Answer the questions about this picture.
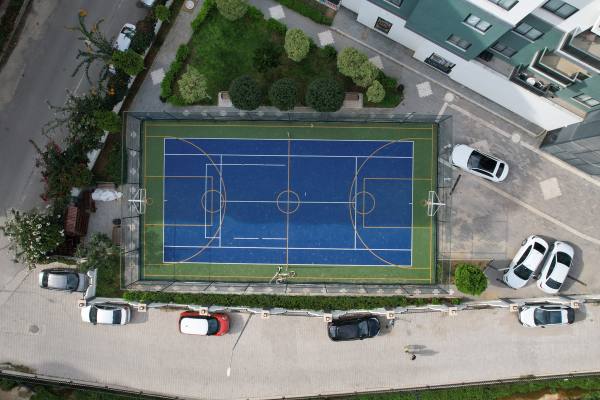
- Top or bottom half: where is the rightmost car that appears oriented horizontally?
bottom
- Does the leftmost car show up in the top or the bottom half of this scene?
bottom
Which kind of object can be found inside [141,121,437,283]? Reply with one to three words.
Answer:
sports court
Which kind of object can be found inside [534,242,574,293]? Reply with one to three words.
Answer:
car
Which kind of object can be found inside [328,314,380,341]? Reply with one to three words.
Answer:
car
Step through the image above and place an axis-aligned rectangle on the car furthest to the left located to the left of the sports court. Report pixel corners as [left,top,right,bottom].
[39,269,88,295]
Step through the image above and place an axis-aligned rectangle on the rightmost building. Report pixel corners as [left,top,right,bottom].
[339,0,600,182]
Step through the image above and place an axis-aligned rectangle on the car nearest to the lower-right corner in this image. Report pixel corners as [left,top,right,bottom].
[517,303,575,330]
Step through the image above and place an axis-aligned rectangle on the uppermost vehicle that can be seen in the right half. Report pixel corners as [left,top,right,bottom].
[450,143,511,182]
